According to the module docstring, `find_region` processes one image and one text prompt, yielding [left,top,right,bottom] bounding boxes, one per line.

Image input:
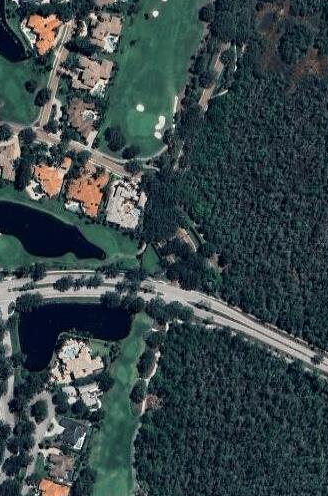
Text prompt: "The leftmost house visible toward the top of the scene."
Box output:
[0,136,25,183]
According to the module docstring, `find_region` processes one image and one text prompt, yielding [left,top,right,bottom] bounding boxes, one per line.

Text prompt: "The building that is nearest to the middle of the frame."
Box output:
[102,179,152,233]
